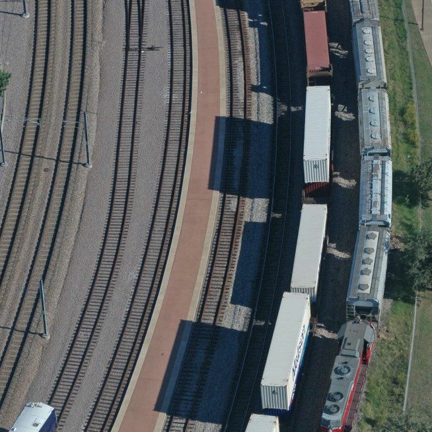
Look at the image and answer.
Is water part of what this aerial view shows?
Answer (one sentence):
No, water can't be seen anywhere here.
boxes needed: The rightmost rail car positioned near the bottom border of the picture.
[307,318,380,432]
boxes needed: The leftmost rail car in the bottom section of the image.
[261,318,314,432]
